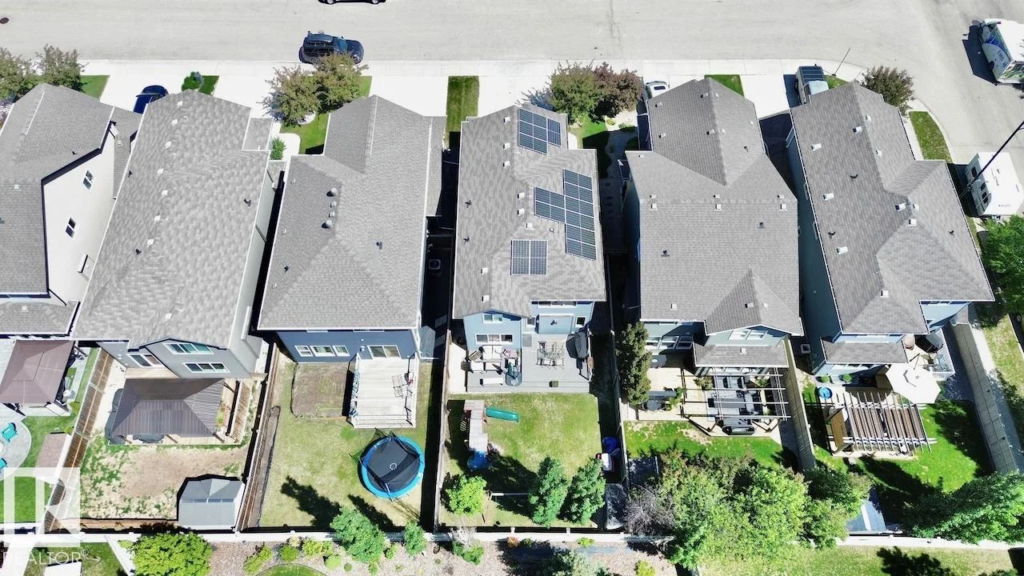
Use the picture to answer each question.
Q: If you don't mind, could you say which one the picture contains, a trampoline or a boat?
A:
trampoline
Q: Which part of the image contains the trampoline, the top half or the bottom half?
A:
bottom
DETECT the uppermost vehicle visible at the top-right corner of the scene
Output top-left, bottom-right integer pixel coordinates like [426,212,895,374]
[981,19,1024,81]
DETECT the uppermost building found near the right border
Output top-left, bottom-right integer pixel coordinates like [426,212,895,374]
[771,89,996,375]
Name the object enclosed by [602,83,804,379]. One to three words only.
house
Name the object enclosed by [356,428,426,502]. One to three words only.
trampoline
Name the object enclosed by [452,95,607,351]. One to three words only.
house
